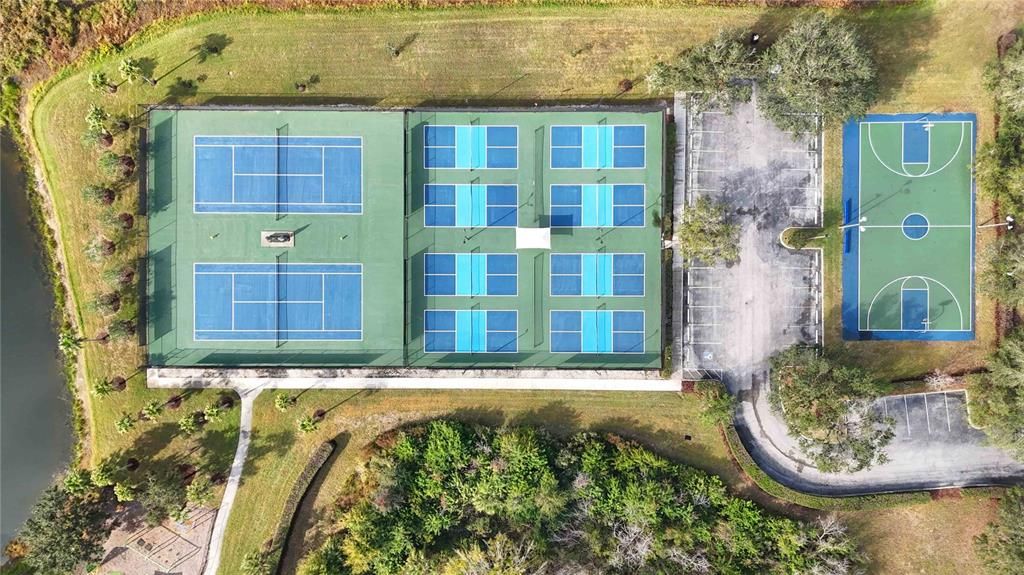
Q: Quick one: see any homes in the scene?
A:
No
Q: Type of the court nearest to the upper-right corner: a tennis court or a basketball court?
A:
basketball court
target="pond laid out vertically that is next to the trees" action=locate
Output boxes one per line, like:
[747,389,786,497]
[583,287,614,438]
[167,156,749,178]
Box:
[0,131,73,540]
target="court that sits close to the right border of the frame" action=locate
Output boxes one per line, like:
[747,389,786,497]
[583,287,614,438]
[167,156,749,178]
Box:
[843,113,975,340]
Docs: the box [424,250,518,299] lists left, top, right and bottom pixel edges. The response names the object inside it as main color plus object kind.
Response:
blue sports court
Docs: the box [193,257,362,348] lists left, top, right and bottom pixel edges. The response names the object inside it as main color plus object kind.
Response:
blue tennis court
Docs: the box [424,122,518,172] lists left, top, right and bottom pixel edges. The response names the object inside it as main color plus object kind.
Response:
blue sports court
